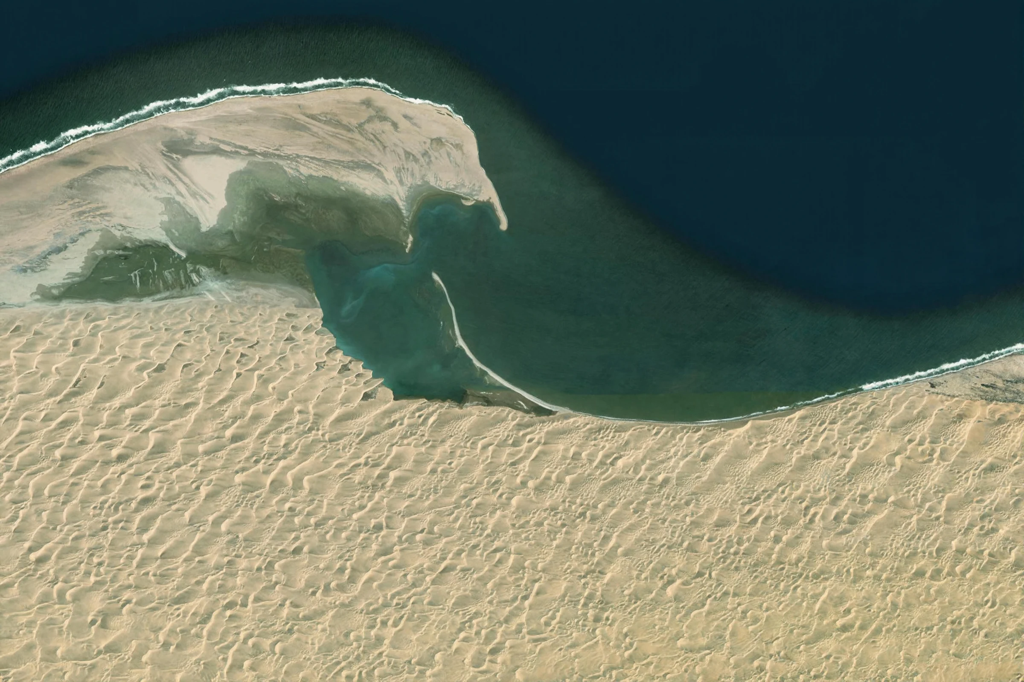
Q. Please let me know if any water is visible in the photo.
Yes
